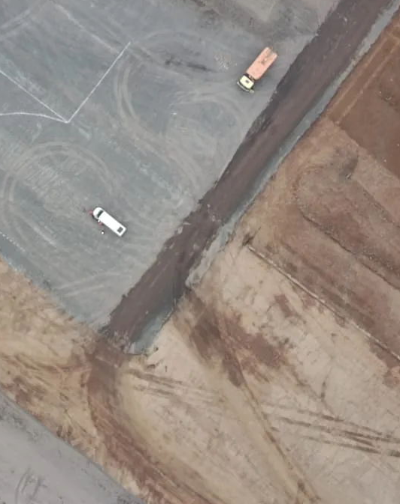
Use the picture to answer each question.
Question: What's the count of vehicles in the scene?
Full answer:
My tally gives 2 vehicles in this view.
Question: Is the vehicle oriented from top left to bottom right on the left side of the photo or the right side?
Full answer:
It is on the left.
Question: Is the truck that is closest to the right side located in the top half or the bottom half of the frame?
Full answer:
It is in the top half that the truck that is closest to the right side appears.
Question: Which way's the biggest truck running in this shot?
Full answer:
I'd say the biggest truck is aligned diagonally in the picture.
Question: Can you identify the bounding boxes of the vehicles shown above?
[236,46,277,91]
[93,209,127,237]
